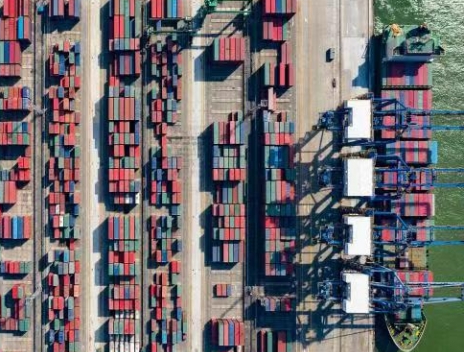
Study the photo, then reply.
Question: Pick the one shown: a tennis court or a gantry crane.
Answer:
gantry crane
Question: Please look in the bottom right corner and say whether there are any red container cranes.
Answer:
No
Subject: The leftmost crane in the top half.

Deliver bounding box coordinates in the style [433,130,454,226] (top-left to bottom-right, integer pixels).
[144,16,195,46]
